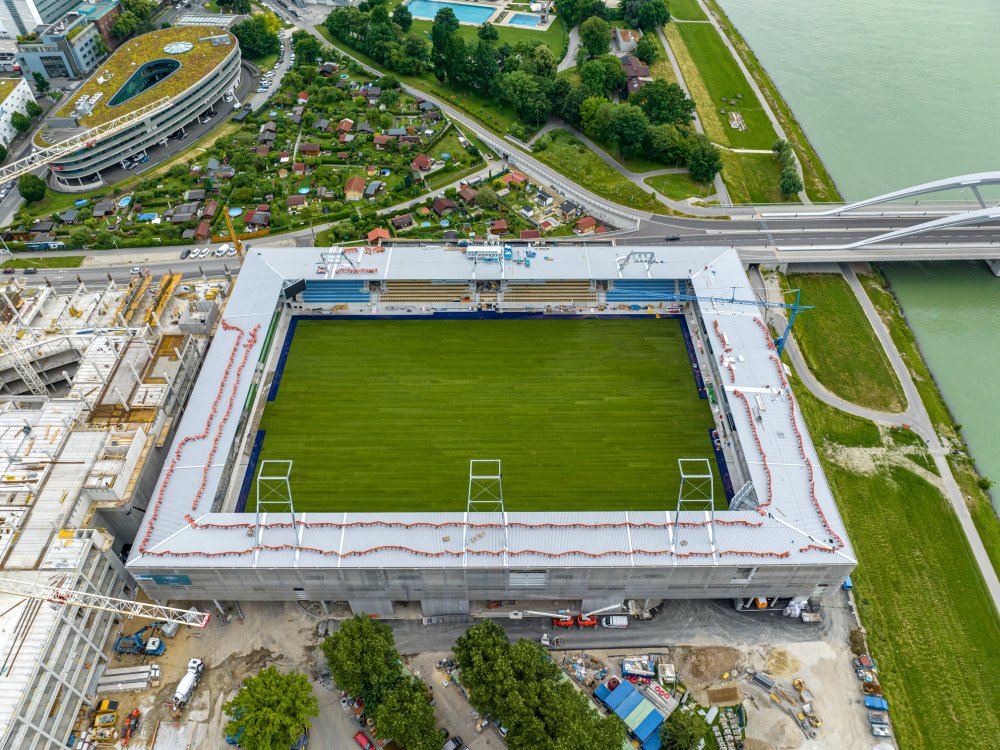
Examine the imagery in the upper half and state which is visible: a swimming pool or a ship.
swimming pool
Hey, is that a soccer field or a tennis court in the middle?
soccer field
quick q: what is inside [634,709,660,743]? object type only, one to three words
building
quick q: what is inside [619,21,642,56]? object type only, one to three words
building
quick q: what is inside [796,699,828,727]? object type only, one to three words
work vehicle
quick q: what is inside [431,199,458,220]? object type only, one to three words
shed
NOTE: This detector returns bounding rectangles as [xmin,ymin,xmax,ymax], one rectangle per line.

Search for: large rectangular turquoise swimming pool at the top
[403,0,514,27]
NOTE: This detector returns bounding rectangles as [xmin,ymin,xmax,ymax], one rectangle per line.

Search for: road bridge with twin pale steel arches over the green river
[729,174,1000,297]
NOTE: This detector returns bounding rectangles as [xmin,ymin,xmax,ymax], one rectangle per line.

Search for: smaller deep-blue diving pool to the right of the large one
[501,8,554,30]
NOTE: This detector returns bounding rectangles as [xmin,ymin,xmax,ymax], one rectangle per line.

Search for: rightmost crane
[605,267,845,358]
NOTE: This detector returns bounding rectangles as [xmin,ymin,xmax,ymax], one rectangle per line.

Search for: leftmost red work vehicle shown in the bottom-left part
[113,699,152,740]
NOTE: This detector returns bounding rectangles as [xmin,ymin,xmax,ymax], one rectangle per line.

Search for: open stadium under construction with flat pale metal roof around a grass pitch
[124,246,857,622]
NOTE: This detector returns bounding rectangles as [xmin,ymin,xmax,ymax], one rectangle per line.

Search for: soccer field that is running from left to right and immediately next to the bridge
[233,311,733,511]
